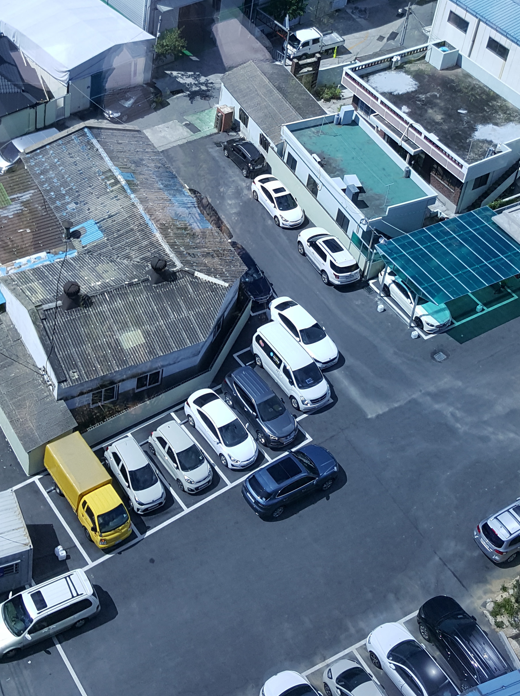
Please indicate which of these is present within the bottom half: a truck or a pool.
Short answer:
truck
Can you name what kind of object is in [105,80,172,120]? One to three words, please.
car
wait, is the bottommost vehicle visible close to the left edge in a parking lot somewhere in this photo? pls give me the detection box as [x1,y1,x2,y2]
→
[0,572,107,666]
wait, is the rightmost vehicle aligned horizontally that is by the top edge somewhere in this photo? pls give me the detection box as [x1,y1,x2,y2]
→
[282,22,348,57]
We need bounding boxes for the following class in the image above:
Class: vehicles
[216,139,269,179]
[282,22,348,57]
[142,422,209,497]
[240,451,345,522]
[223,232,275,303]
[243,315,326,410]
[216,366,298,452]
[177,393,254,477]
[105,80,172,120]
[364,623,461,696]
[292,229,365,292]
[414,592,520,688]
[46,419,127,538]
[248,173,305,232]
[0,572,107,666]
[0,118,61,172]
[269,298,338,371]
[99,438,162,516]
[470,500,520,565]
[254,662,320,696]
[320,652,392,696]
